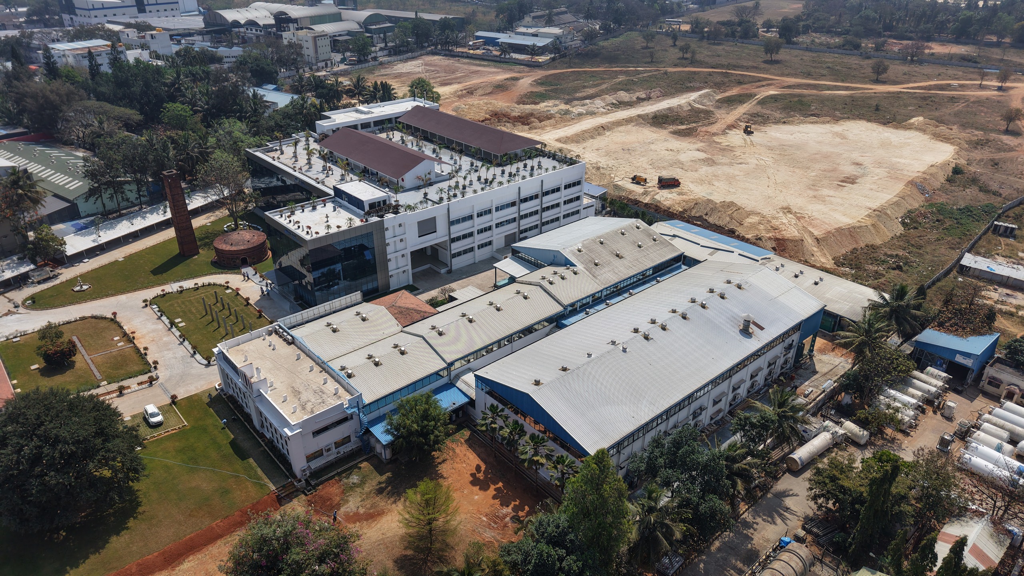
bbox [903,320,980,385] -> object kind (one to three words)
shed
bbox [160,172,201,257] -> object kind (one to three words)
chimney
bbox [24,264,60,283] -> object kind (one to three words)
vehicle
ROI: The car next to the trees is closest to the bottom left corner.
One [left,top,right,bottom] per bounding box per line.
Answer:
[140,397,163,423]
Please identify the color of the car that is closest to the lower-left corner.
white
